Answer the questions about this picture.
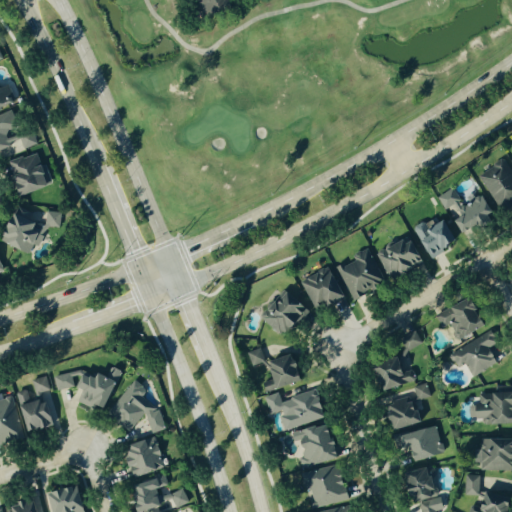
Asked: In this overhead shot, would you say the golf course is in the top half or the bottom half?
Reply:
top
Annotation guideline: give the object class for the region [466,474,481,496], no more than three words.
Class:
building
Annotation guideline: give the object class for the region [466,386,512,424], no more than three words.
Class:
house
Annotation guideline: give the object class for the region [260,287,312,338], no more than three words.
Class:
house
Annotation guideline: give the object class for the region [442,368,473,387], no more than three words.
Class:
swimming pool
